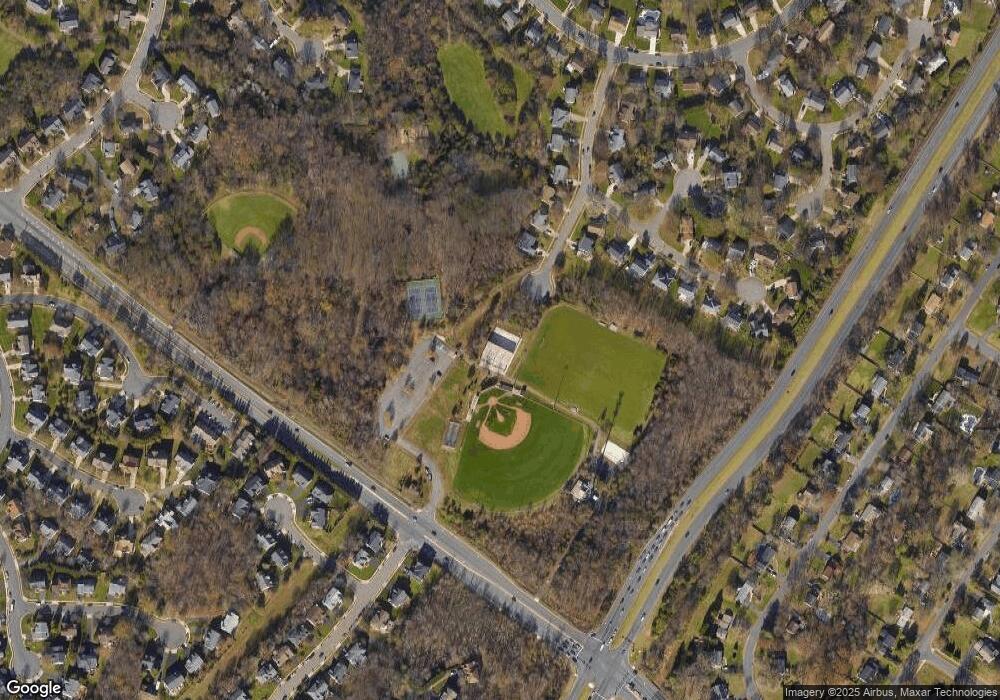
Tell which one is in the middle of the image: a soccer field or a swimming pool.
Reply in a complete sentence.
There is a soccer field in the middle of the image.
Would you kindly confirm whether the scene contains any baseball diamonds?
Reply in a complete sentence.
Yes, a baseball diamond can be made out from above.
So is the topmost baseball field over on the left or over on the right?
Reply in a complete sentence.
The topmost baseball field appears in the left half of the scene.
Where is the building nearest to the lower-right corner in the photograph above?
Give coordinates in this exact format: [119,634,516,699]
[976,637,999,663]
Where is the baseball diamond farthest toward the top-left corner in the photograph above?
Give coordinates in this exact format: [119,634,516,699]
[209,192,296,257]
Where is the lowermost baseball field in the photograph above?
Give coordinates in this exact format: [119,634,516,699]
[453,386,588,509]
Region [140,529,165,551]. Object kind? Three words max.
house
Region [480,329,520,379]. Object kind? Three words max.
building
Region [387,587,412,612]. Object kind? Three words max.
house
